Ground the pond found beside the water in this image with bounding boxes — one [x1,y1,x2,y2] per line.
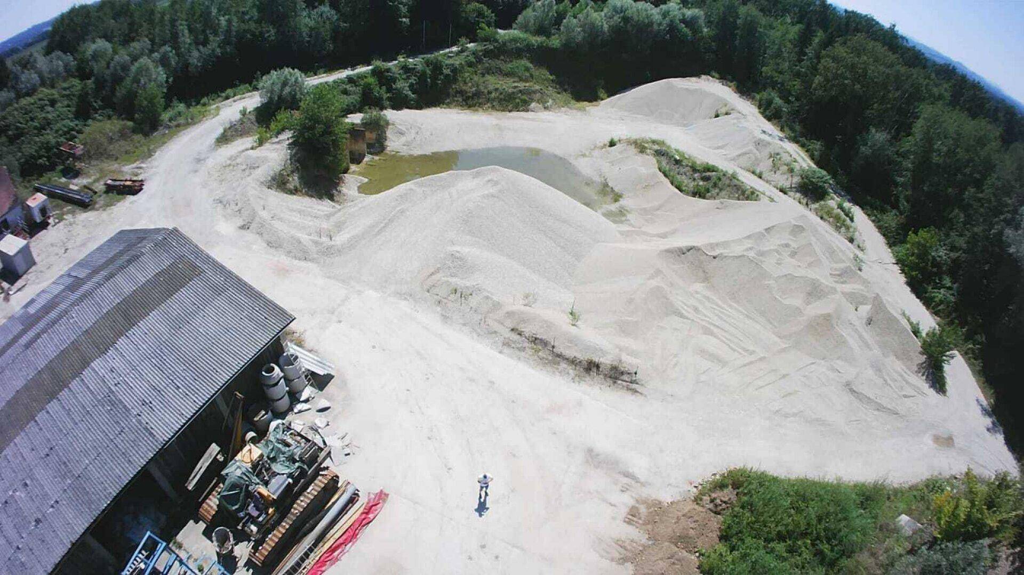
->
[351,146,622,216]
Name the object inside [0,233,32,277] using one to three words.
building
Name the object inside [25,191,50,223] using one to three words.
building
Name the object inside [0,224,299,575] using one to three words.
shed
